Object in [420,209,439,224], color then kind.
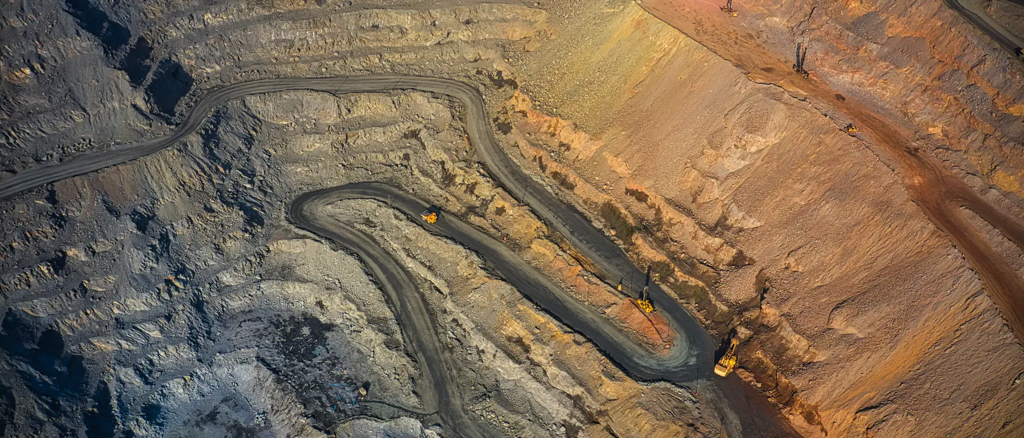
orange vehicle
